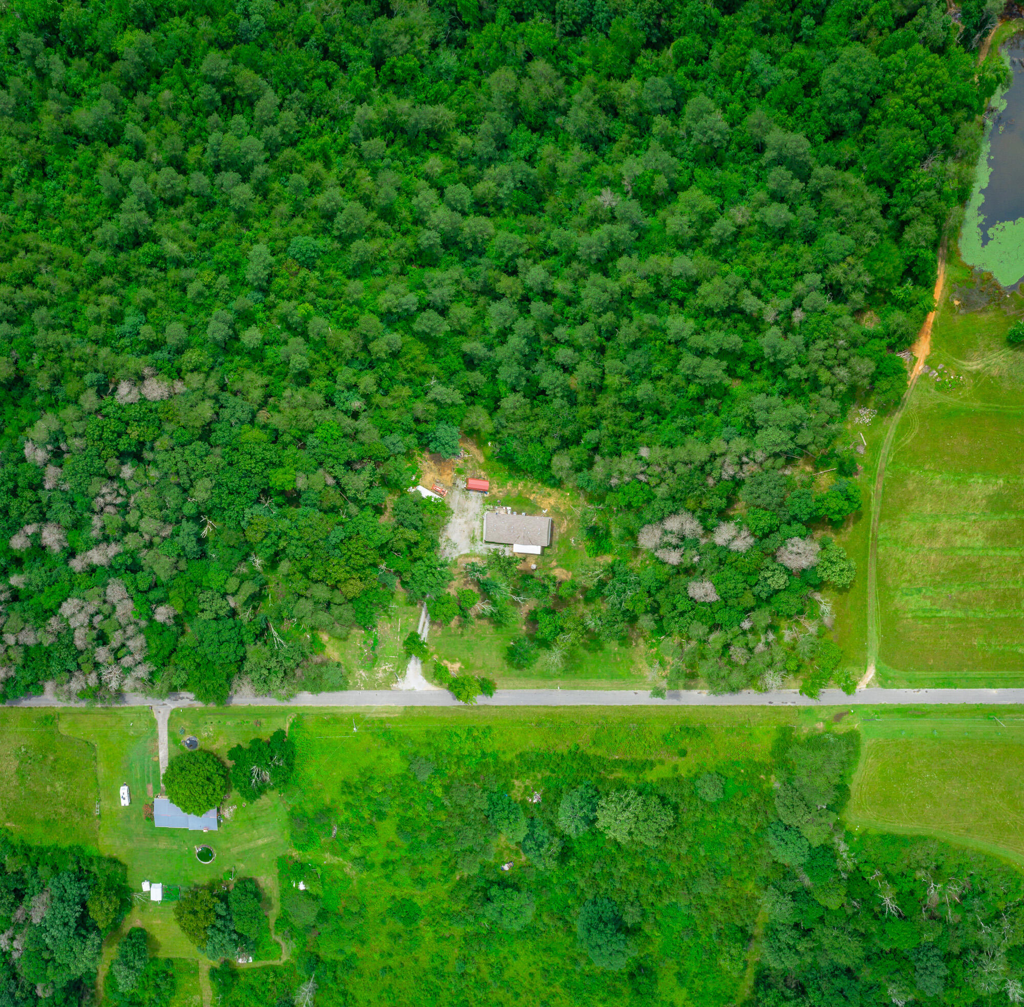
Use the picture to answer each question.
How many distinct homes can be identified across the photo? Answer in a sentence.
In total, 2 homes can be seen.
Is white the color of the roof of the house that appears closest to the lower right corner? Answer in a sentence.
Yes, the roof of the house that appears closest to the lower right corner appears white.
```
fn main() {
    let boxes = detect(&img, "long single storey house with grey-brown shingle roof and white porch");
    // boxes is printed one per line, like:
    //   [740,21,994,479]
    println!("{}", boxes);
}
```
[483,513,553,553]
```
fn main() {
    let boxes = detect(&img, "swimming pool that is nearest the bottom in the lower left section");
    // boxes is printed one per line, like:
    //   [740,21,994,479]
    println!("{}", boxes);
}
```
[193,846,215,865]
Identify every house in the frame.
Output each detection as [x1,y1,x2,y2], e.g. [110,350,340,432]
[483,513,553,553]
[154,792,220,832]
